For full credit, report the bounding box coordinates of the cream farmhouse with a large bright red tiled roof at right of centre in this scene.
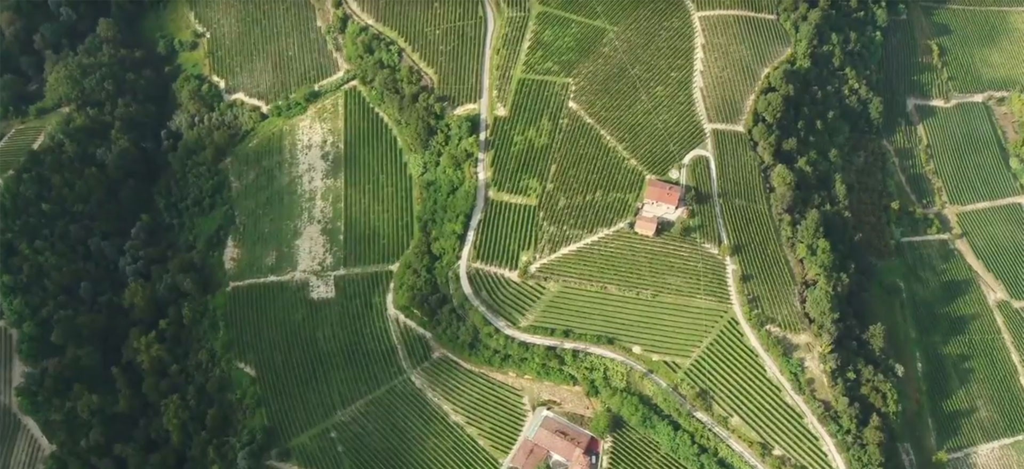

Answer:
[642,180,681,212]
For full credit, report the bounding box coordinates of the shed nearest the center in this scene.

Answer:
[635,215,658,237]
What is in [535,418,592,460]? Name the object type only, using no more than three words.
building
